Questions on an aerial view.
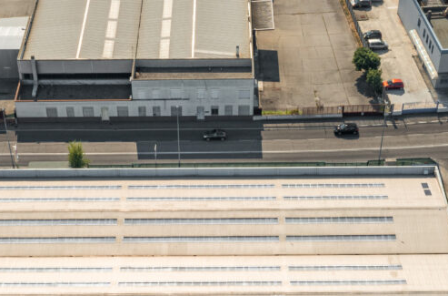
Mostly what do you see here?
buildings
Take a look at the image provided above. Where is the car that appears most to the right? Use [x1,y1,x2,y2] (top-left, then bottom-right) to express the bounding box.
[387,77,405,90]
